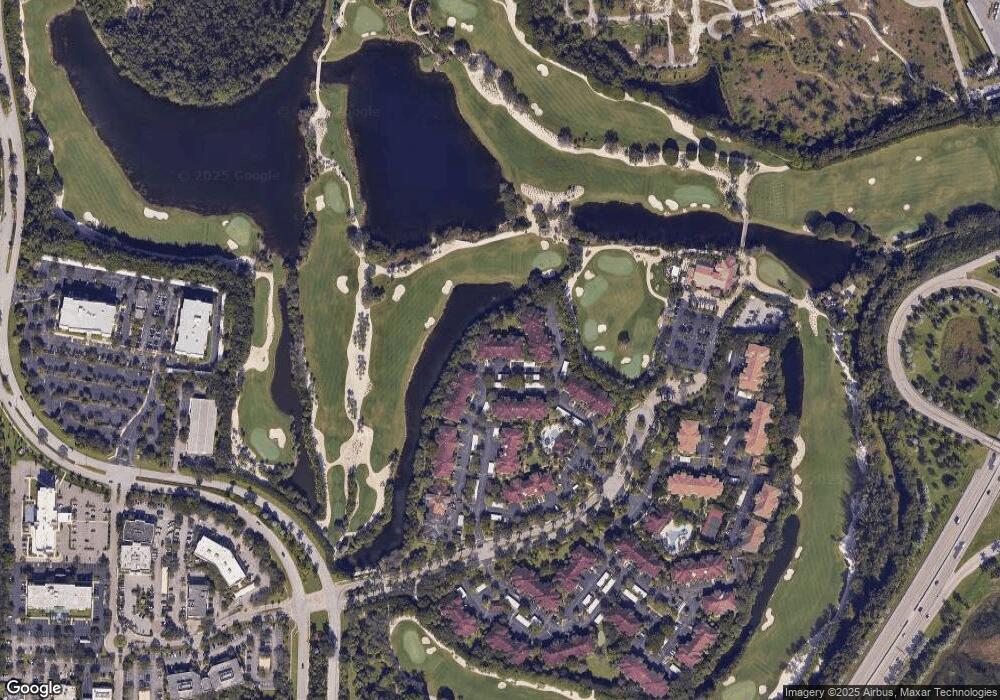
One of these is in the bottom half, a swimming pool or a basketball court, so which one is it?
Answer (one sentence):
It is a swimming pool that can be seen in the bottom half.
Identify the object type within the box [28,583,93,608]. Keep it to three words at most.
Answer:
building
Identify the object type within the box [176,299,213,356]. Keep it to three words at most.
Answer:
building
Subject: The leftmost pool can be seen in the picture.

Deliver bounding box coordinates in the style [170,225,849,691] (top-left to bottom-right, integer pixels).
[540,424,562,455]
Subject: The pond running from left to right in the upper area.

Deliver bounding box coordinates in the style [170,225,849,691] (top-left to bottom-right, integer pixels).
[630,66,734,119]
